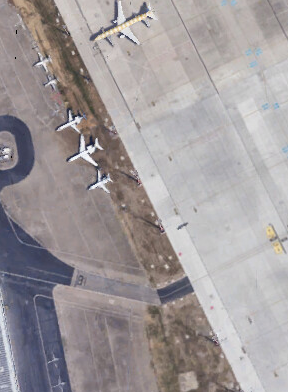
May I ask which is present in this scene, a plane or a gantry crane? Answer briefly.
plane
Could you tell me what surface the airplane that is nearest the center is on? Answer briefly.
grass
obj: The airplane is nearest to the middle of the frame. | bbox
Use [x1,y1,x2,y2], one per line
[90,171,115,194]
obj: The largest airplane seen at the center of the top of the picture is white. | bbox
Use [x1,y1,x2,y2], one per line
[95,1,156,43]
